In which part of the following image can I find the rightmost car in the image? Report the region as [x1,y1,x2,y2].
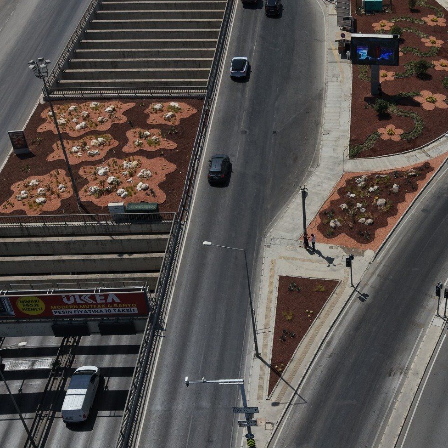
[265,0,281,18]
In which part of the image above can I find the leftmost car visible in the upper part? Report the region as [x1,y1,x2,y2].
[208,155,231,187]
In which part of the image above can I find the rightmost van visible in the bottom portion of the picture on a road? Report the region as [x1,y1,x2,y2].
[59,372,101,424]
